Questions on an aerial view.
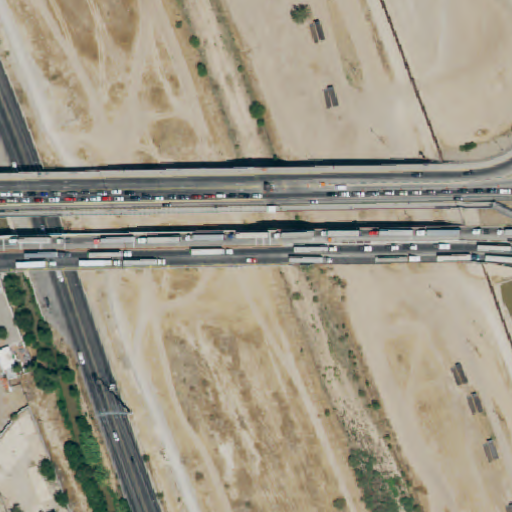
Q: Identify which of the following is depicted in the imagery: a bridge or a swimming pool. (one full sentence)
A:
Looking from above, you can make out a bridge.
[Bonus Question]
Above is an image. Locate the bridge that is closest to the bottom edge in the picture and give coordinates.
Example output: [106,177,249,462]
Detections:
[0,228,512,270]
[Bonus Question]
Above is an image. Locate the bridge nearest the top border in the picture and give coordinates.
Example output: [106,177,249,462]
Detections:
[0,150,512,217]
